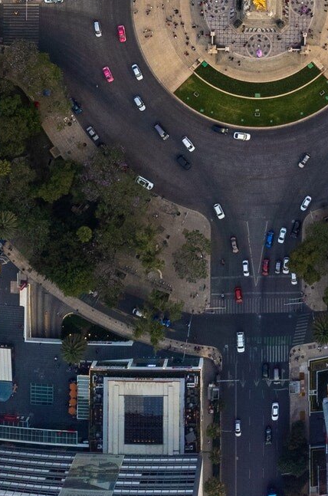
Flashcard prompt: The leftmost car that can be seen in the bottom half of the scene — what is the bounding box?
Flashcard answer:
[128,306,145,319]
